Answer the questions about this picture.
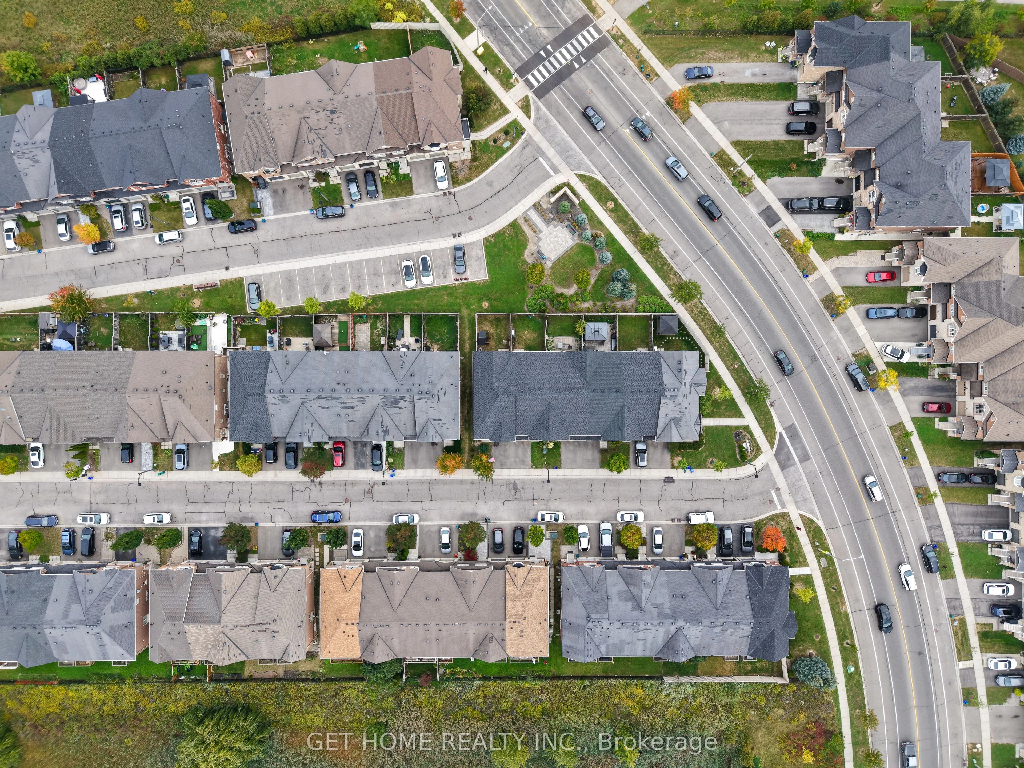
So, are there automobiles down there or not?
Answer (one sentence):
Yes, the photo shows an automobile.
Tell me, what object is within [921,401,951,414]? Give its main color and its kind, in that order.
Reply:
red vehicle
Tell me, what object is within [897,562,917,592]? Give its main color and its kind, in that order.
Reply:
white car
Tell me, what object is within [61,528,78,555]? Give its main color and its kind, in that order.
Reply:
blue car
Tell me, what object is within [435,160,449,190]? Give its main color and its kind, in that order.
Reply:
white car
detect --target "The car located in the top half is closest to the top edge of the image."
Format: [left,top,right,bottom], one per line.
[685,65,714,80]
